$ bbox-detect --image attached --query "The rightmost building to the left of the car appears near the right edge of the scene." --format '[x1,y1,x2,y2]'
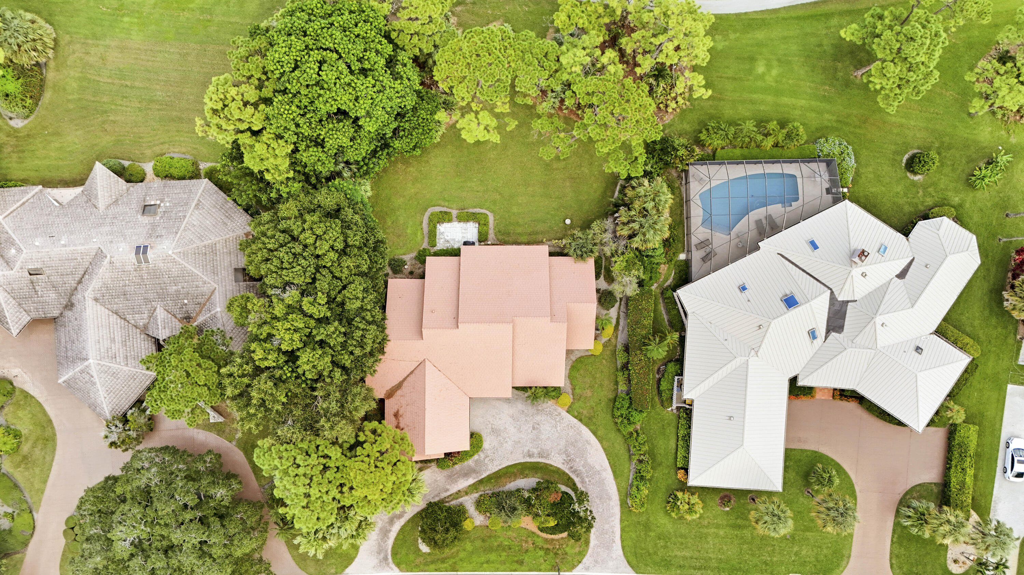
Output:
[677,199,982,493]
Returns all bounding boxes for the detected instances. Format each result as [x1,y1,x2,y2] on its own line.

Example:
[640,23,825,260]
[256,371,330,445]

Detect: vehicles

[1004,433,1024,480]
